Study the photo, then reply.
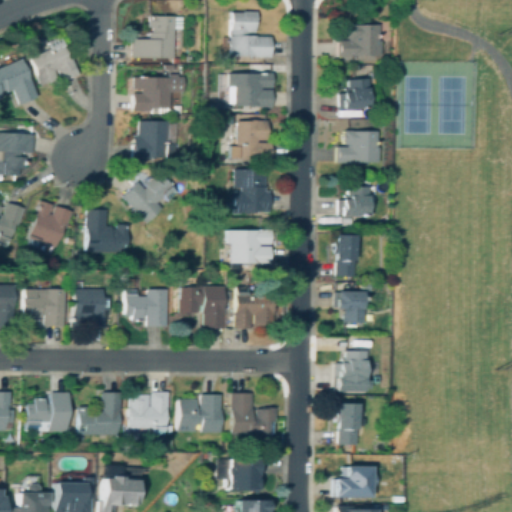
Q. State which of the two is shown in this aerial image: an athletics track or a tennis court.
tennis court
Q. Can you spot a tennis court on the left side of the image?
No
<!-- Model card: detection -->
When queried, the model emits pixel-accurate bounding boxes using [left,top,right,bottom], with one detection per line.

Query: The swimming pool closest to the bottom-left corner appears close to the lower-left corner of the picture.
[58,456,88,472]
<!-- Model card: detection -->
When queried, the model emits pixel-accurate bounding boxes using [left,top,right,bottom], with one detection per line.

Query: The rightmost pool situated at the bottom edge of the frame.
[164,492,178,507]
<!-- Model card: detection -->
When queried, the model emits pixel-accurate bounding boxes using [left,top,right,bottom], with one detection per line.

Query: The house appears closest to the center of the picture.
[218,230,276,264]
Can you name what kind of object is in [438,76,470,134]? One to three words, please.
tennis court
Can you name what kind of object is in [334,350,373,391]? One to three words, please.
house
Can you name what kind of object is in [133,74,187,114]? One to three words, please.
house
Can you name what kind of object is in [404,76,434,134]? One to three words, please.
tennis court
